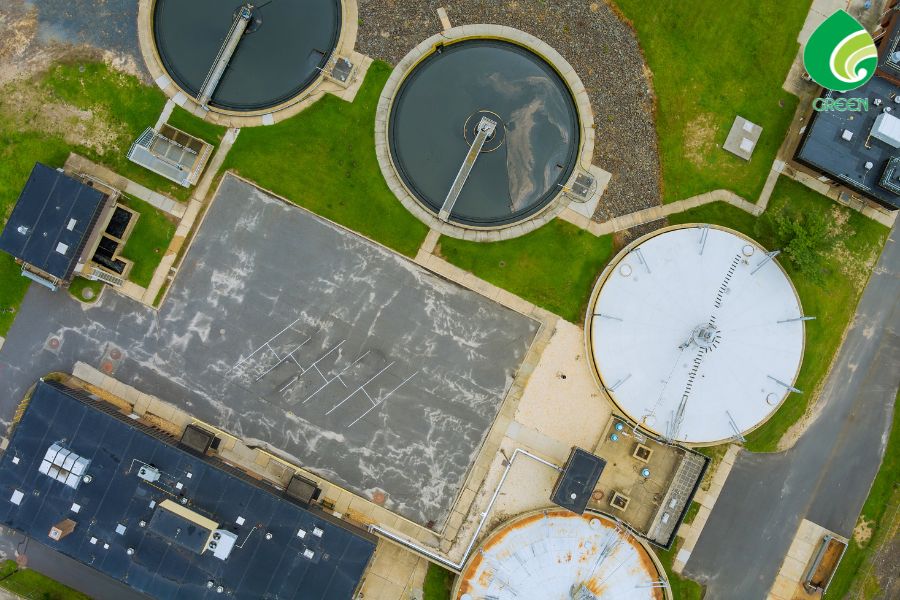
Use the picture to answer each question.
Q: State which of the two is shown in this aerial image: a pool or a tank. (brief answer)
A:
tank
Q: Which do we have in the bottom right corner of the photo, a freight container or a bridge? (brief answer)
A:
freight container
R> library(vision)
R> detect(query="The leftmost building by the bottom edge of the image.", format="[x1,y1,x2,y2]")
[0,378,377,600]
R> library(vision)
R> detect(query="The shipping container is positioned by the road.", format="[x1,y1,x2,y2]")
[801,530,846,593]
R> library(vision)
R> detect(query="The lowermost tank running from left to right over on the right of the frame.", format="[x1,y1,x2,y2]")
[452,502,671,600]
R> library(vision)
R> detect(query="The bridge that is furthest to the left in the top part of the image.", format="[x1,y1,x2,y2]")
[200,1,250,105]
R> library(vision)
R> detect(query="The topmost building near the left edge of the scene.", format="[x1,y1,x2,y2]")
[0,163,114,290]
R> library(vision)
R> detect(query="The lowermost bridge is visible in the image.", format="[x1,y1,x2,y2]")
[439,113,494,221]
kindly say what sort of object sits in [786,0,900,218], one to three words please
building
